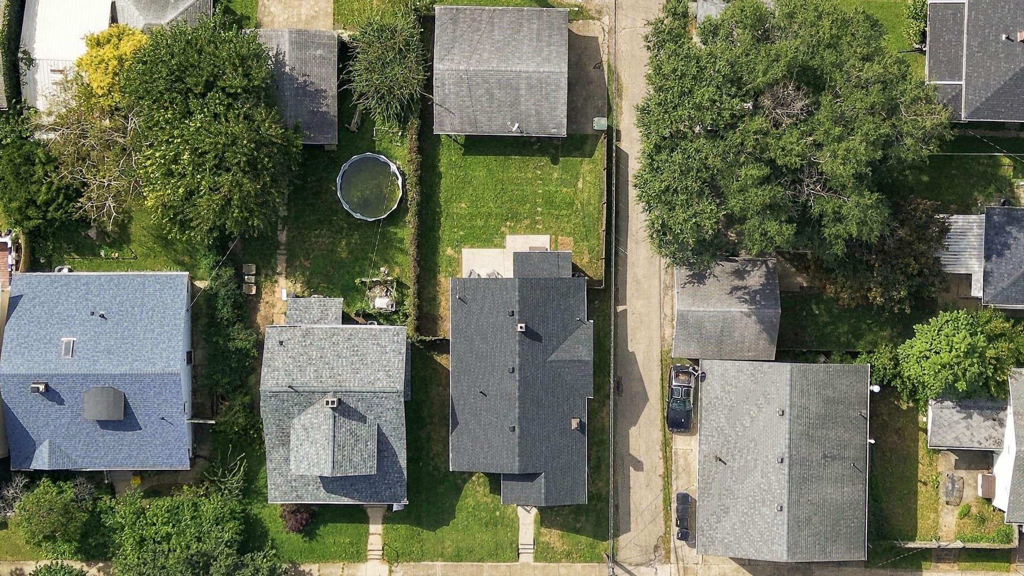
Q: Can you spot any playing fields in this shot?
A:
No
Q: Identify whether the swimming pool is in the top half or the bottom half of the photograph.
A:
top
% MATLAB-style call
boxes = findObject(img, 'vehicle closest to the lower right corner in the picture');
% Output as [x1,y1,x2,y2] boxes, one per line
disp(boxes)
[670,361,698,433]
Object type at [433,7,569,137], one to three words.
building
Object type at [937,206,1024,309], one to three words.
house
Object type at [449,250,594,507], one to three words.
house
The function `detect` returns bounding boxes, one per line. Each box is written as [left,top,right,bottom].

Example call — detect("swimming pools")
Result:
[337,154,402,219]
